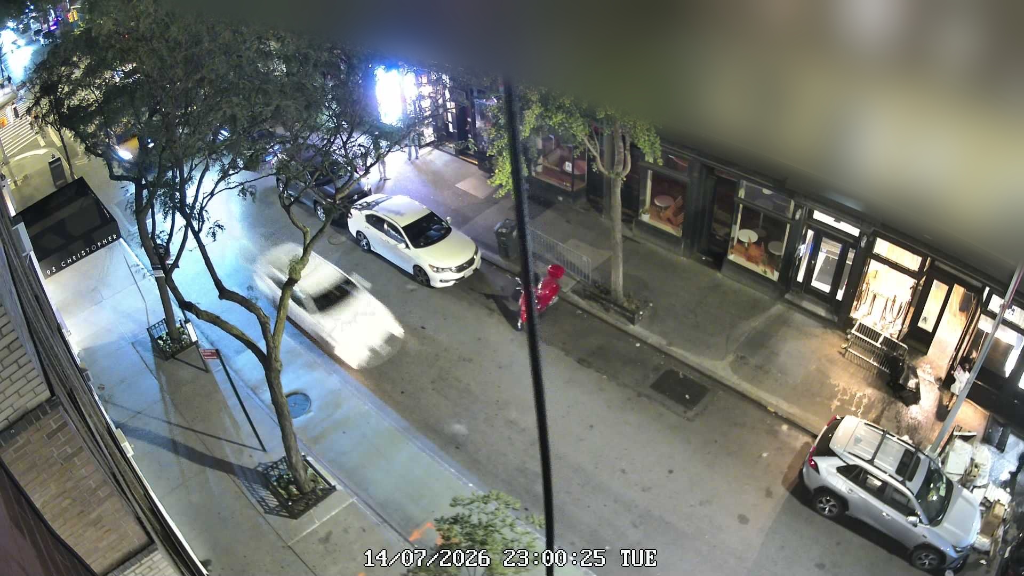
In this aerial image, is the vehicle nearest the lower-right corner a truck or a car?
car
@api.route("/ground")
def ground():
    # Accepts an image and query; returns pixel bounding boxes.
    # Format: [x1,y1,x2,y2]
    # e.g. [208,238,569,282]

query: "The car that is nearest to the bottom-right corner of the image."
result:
[802,412,995,571]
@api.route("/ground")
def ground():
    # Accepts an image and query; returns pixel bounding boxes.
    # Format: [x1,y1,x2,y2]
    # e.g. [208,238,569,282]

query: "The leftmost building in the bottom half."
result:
[0,124,205,576]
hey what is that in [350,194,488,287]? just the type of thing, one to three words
car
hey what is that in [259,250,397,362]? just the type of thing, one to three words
car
